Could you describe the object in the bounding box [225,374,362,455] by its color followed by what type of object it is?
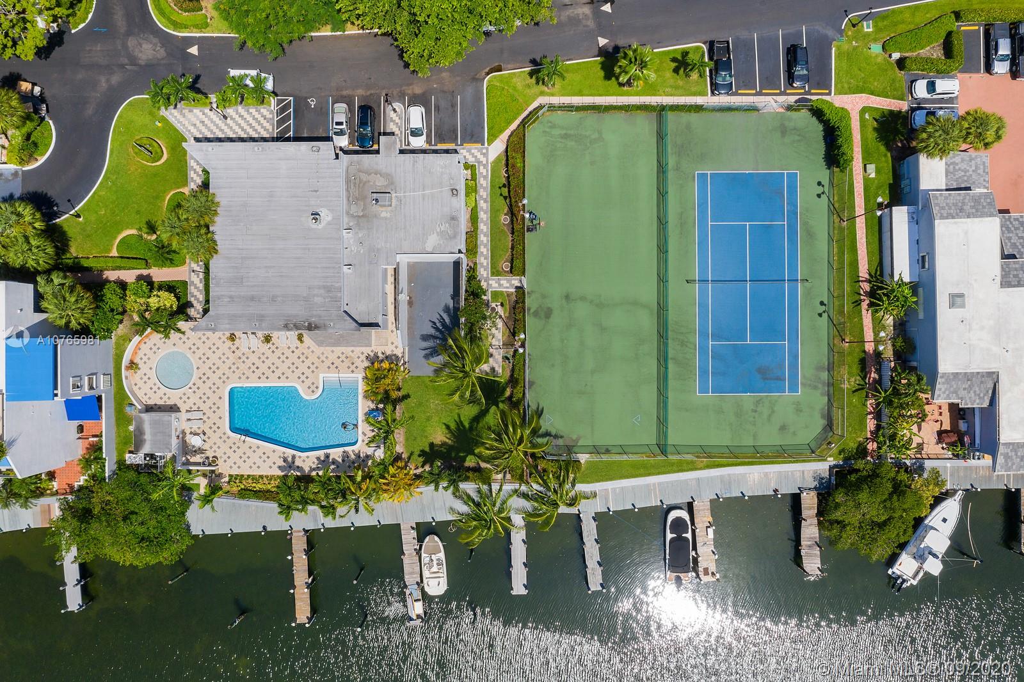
blue swimming pool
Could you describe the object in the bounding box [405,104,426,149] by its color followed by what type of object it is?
white car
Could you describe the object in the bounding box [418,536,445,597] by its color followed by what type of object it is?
white boat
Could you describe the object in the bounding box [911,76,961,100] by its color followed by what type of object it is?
white car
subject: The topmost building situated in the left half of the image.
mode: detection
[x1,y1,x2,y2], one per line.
[183,137,466,331]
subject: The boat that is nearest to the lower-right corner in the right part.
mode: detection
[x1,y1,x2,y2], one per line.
[884,492,963,603]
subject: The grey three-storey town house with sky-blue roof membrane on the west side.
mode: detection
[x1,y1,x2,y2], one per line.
[0,281,113,478]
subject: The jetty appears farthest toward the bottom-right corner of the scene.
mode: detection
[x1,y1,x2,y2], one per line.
[1003,490,1024,554]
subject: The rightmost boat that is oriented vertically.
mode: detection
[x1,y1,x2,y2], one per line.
[667,510,693,590]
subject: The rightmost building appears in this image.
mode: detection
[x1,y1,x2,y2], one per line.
[877,153,1024,476]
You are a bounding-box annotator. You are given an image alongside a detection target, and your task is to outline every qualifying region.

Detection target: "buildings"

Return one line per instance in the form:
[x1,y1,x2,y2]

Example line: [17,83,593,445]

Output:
[877,153,1024,476]
[0,281,113,478]
[183,137,466,331]
[133,412,186,455]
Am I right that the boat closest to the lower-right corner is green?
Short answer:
No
